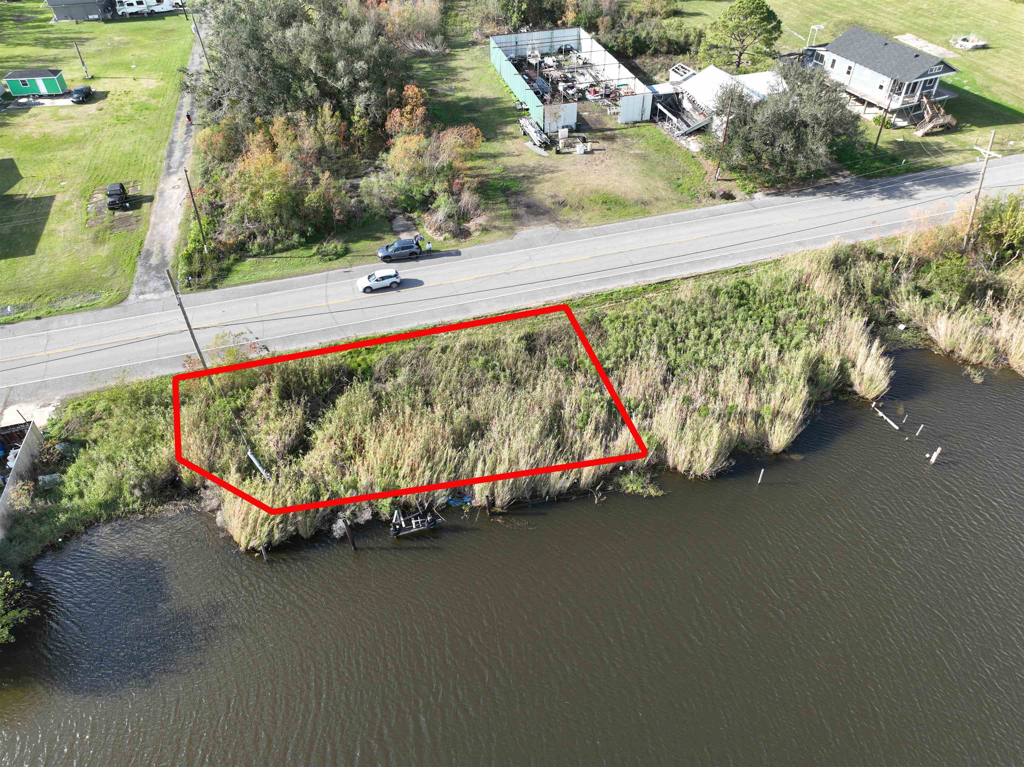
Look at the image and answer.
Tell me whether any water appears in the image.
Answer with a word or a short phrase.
Yes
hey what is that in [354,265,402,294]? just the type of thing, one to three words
car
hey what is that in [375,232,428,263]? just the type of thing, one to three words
car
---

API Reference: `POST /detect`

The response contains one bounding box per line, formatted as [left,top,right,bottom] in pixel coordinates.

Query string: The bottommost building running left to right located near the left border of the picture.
[0,68,72,100]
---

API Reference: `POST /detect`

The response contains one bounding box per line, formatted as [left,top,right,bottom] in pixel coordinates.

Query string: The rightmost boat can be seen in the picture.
[951,32,991,49]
